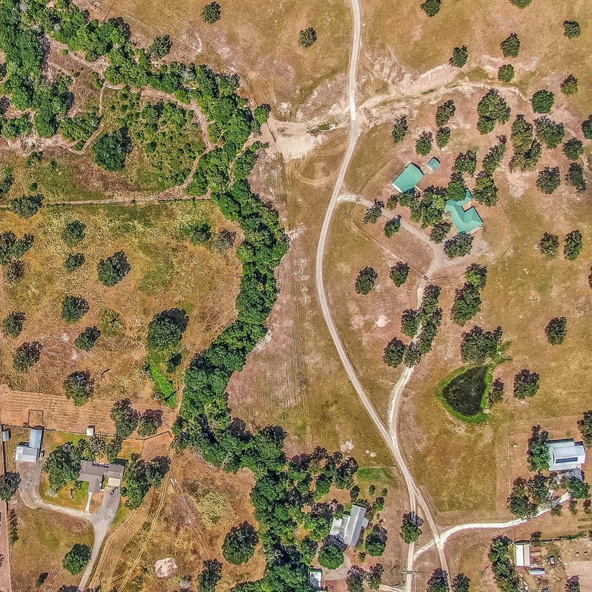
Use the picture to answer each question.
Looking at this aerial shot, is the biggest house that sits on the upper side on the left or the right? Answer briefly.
right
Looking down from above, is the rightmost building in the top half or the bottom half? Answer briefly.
bottom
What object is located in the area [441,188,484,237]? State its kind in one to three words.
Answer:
house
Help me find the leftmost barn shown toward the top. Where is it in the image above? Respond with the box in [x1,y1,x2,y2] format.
[389,160,425,194]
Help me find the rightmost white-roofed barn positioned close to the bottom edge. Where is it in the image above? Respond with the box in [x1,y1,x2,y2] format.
[511,539,542,567]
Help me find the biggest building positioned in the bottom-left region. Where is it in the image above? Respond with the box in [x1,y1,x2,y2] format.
[80,458,125,495]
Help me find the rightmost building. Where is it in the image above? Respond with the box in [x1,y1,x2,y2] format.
[544,440,588,472]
